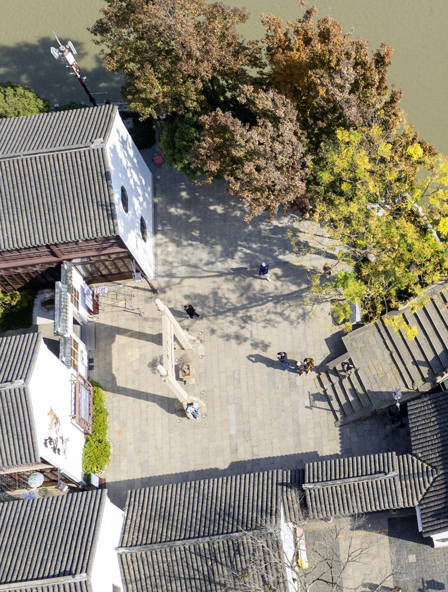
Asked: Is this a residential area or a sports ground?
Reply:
residential area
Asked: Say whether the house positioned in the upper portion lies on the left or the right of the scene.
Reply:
left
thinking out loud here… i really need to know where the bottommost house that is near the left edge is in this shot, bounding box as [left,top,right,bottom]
[0,489,123,592]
